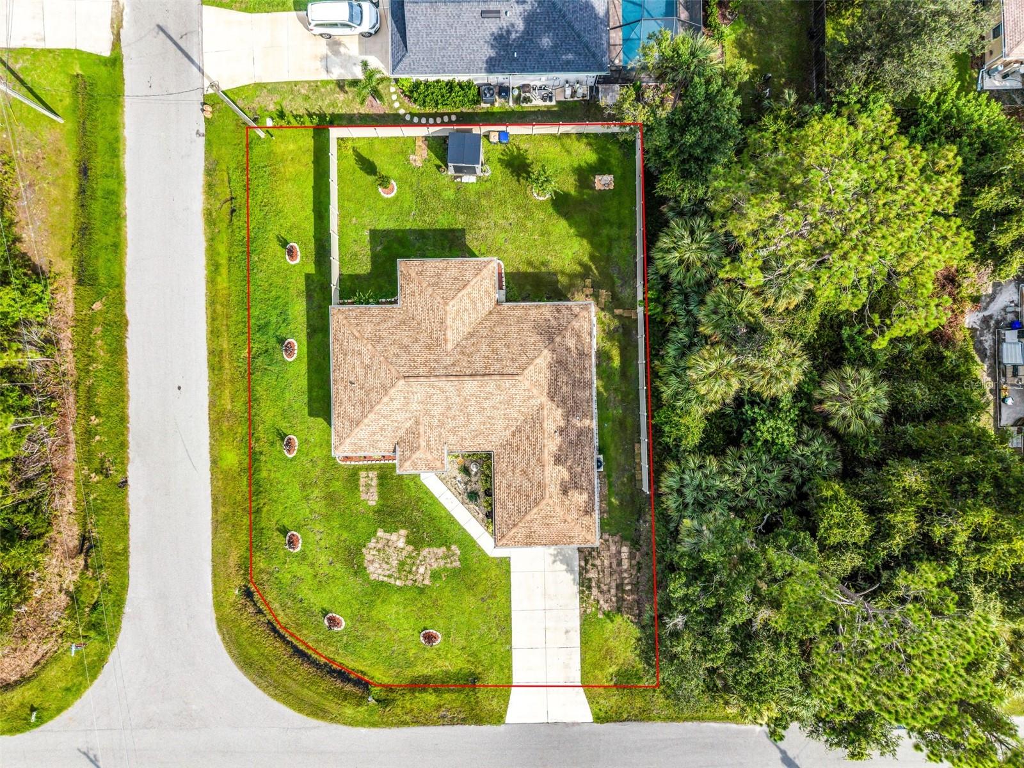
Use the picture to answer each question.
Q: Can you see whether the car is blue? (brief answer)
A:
No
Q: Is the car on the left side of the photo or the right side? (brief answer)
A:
left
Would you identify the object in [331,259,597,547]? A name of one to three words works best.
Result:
house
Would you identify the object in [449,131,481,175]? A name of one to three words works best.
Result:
shed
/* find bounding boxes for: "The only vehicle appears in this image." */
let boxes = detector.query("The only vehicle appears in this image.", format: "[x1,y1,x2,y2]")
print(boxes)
[306,0,382,37]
